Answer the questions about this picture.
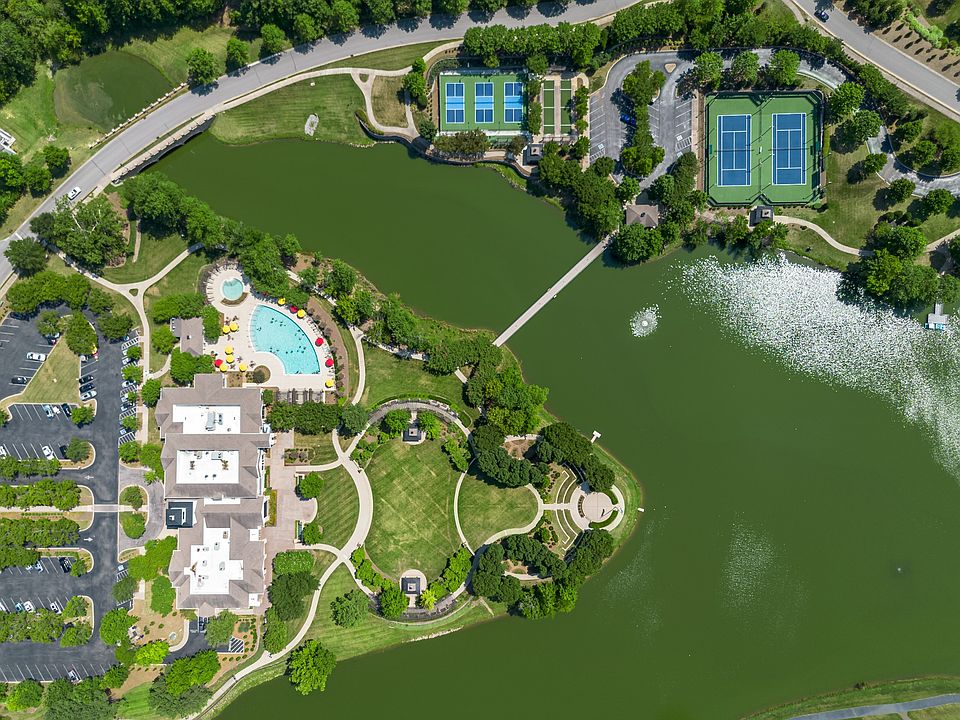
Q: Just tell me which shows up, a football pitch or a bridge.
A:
bridge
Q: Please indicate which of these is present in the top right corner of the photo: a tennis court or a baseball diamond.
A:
tennis court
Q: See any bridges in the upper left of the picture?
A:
Yes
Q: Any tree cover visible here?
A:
Yes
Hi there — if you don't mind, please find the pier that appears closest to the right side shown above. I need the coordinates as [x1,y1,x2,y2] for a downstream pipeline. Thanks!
[926,300,950,324]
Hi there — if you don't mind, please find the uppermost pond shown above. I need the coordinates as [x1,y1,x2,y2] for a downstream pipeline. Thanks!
[54,52,195,136]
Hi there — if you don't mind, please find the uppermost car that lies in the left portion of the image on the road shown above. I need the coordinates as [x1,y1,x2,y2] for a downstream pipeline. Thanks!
[67,187,82,199]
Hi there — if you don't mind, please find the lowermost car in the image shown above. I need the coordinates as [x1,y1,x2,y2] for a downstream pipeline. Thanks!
[67,668,80,683]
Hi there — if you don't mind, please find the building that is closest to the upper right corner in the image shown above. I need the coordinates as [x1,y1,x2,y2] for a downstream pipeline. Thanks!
[745,205,774,230]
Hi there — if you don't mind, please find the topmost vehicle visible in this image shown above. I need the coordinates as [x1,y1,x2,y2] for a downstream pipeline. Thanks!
[815,8,828,22]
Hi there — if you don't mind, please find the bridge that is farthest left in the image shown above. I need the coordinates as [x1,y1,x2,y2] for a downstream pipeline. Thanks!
[112,113,217,185]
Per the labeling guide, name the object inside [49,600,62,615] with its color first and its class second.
white vehicle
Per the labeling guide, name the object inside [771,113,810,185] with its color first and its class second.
blue tennis court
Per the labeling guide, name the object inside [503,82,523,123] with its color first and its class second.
blue sports court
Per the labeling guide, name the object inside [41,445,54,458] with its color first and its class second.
white vehicle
